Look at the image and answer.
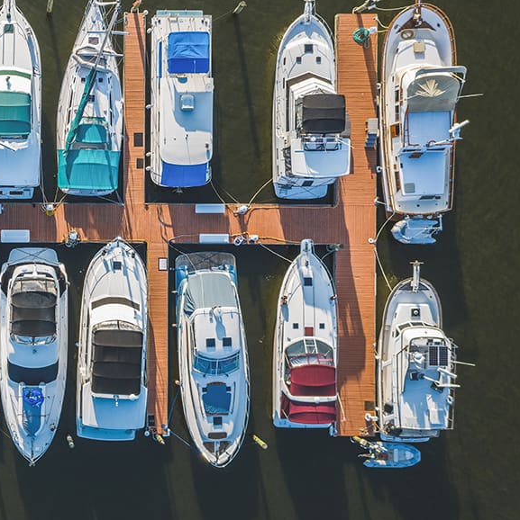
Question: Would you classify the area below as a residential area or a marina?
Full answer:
This looks like a marina.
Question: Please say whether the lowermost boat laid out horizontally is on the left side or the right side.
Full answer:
It is on the right.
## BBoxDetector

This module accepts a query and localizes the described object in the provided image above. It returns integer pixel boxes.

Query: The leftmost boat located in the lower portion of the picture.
[0,248,69,469]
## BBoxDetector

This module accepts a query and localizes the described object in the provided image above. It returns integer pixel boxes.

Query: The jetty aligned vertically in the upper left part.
[122,11,146,203]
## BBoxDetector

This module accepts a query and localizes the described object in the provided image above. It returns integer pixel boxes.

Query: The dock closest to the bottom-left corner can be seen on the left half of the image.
[146,243,169,435]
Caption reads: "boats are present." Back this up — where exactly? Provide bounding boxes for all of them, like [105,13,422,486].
[0,0,43,198]
[372,261,475,443]
[378,0,483,215]
[391,216,443,246]
[270,0,352,198]
[271,238,345,429]
[0,248,69,469]
[175,252,251,471]
[358,441,422,470]
[56,0,138,197]
[150,10,214,195]
[77,235,149,441]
